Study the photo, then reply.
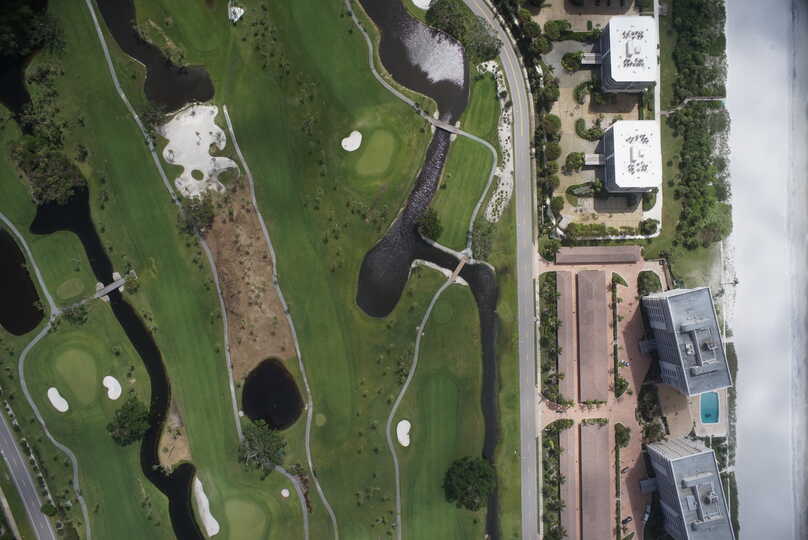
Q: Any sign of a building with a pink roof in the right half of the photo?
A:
No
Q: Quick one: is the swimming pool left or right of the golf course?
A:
right of it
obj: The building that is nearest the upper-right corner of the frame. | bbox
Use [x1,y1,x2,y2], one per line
[600,16,657,91]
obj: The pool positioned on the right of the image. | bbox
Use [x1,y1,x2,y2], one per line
[700,390,720,425]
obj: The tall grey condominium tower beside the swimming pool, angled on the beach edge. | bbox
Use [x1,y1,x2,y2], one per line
[634,287,732,396]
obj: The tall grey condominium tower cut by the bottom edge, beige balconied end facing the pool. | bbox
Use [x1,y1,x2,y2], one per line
[637,438,735,540]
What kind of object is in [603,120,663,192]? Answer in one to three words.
building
